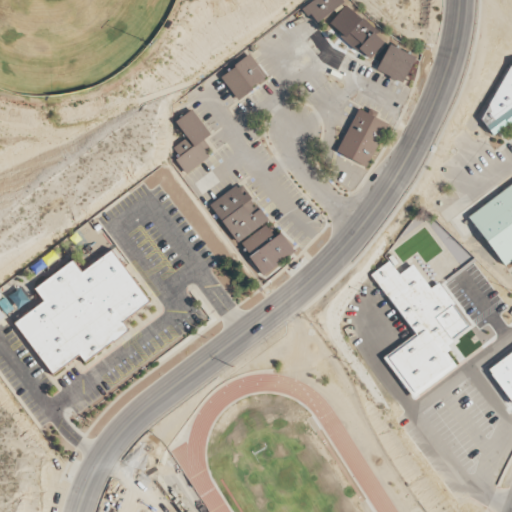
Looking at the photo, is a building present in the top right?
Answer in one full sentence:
Yes, a building appears in the top right.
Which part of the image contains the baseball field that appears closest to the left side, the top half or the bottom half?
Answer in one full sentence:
It is in the top half that the baseball field that appears closest to the left side appears.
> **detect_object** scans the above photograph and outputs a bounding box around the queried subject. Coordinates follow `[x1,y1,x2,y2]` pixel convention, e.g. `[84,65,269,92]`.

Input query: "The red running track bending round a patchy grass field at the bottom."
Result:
[172,372,394,512]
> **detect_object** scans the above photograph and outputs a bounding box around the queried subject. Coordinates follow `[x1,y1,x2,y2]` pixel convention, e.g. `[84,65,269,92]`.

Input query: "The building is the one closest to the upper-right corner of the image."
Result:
[480,66,512,126]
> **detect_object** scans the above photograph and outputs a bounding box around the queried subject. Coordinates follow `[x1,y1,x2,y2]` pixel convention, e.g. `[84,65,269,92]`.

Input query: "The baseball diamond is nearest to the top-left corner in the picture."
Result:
[0,0,172,95]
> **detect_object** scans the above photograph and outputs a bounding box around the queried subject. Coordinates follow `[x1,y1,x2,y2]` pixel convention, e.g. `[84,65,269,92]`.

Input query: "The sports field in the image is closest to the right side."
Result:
[208,394,371,512]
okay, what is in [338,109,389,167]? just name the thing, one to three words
building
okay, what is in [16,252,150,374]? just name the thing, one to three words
building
